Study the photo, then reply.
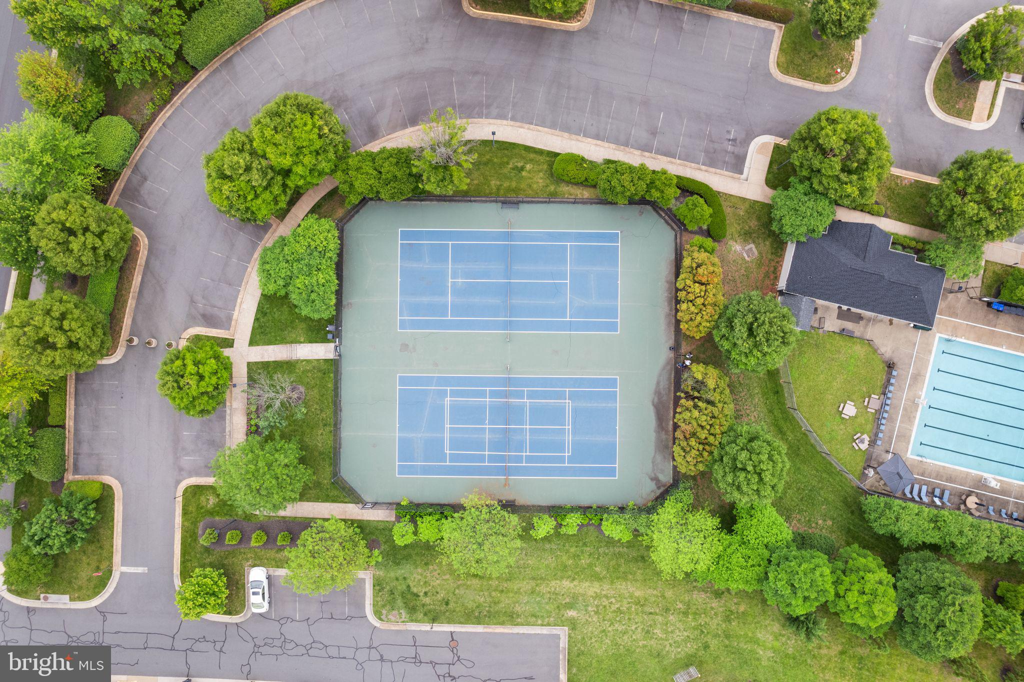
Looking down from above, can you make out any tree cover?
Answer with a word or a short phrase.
Yes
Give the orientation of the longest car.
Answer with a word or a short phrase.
vertically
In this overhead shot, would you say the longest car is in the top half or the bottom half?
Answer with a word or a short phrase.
bottom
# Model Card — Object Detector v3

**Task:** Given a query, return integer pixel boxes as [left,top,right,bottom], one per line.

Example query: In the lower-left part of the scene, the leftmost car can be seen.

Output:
[247,567,270,614]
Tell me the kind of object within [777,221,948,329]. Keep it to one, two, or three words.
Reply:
building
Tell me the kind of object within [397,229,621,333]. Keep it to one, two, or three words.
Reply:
tennis court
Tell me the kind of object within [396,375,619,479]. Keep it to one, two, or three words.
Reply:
tennis court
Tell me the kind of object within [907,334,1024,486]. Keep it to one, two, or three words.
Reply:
swimming pool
